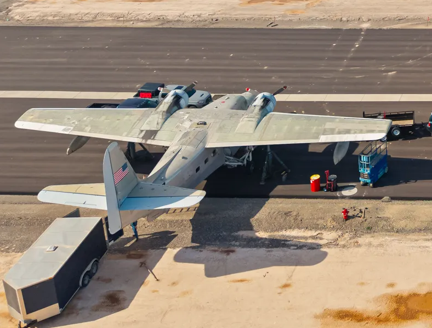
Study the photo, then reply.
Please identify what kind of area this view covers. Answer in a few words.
airport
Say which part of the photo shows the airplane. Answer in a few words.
center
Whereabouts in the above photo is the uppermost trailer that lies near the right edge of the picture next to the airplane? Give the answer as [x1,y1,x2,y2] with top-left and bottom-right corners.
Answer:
[362,106,429,135]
